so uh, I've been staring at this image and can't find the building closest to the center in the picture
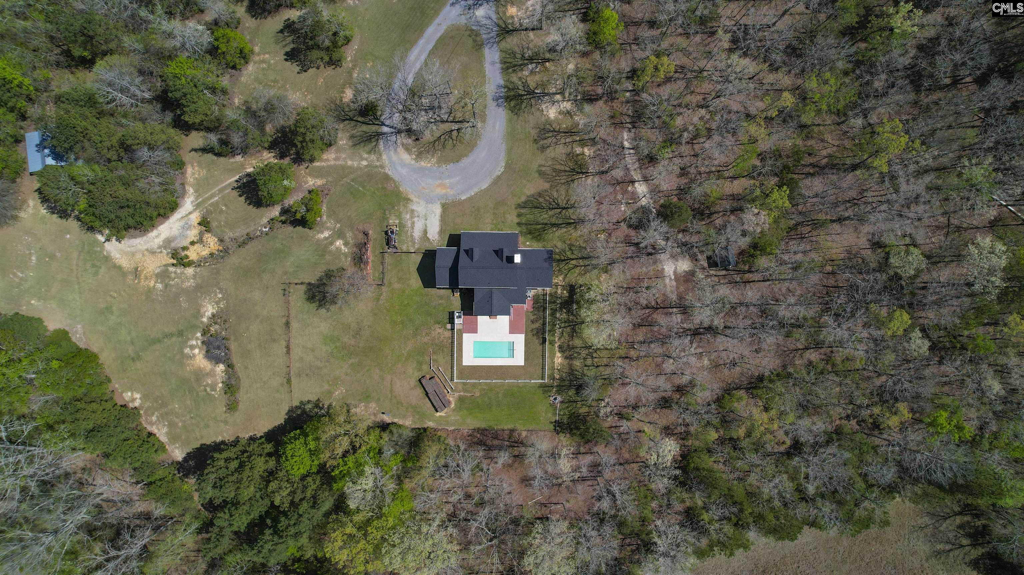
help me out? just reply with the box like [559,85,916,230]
[435,231,553,319]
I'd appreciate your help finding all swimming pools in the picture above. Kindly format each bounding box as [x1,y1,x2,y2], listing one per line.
[473,341,514,358]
